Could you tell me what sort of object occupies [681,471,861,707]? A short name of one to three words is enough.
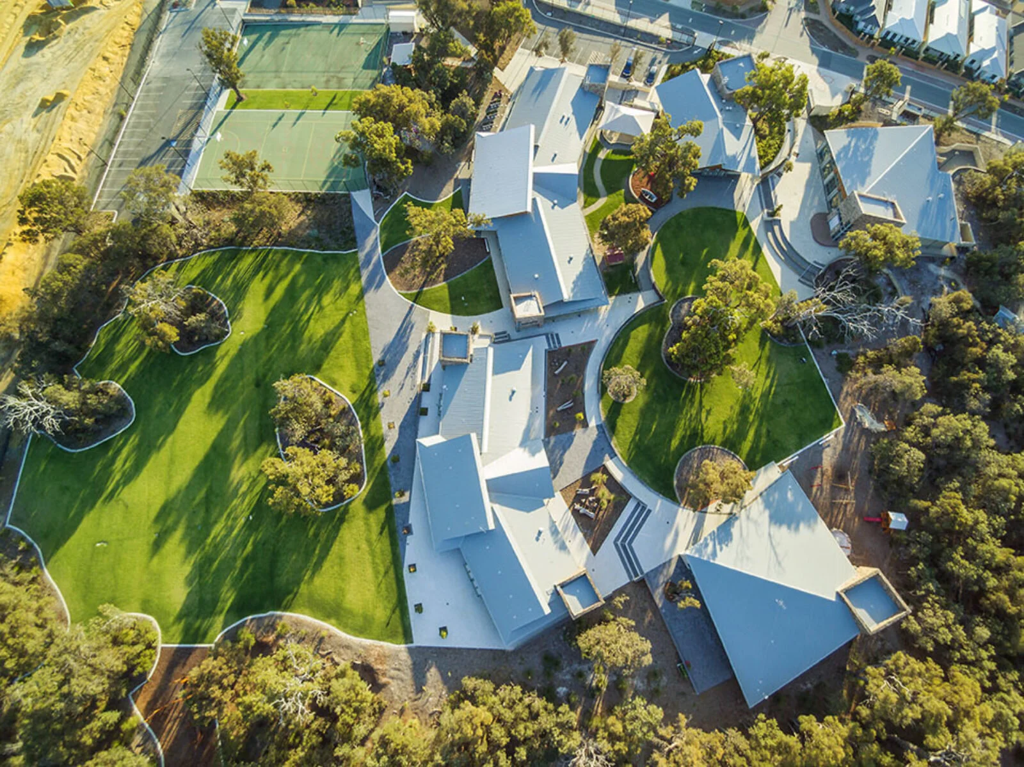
building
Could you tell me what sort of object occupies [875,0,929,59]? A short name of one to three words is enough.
house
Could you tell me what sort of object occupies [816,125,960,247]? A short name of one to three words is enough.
building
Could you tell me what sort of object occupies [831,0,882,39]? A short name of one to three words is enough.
house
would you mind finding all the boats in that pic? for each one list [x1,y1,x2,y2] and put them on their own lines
[641,190,659,202]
